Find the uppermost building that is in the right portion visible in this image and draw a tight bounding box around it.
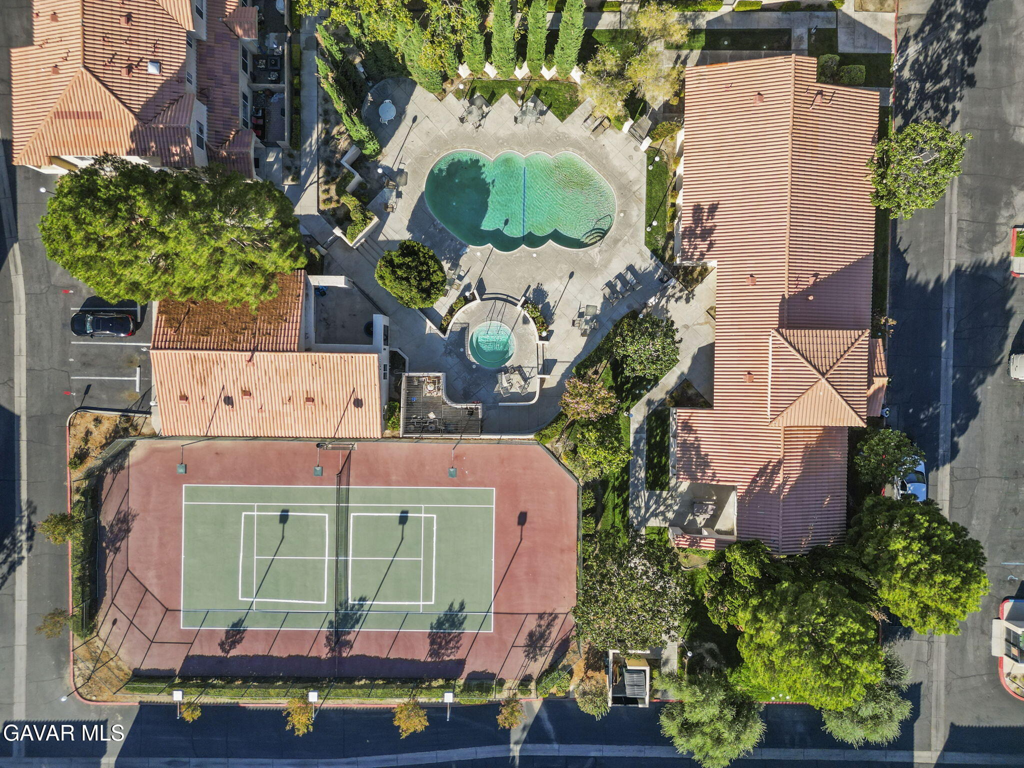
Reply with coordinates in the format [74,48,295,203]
[669,55,887,555]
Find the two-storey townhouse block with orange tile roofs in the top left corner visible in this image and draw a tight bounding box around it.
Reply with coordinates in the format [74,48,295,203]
[9,0,267,186]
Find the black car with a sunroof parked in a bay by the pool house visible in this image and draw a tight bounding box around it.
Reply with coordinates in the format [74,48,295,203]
[73,309,139,340]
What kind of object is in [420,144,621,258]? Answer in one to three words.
swimming pool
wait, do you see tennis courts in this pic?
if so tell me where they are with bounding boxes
[102,442,576,679]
